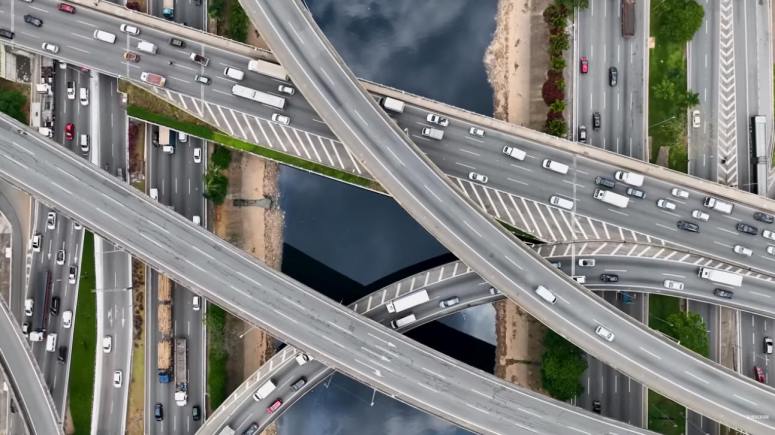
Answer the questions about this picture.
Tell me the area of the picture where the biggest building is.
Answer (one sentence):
The biggest building is in the top left part of the image.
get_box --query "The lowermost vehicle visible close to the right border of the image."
[753,365,765,382]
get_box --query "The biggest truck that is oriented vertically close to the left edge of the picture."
[30,269,55,342]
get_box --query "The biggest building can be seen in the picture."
[1,44,42,89]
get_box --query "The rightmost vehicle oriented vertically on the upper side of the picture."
[751,113,770,200]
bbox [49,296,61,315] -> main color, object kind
black vehicle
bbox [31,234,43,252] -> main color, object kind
white vehicle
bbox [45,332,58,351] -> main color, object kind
white vehicle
